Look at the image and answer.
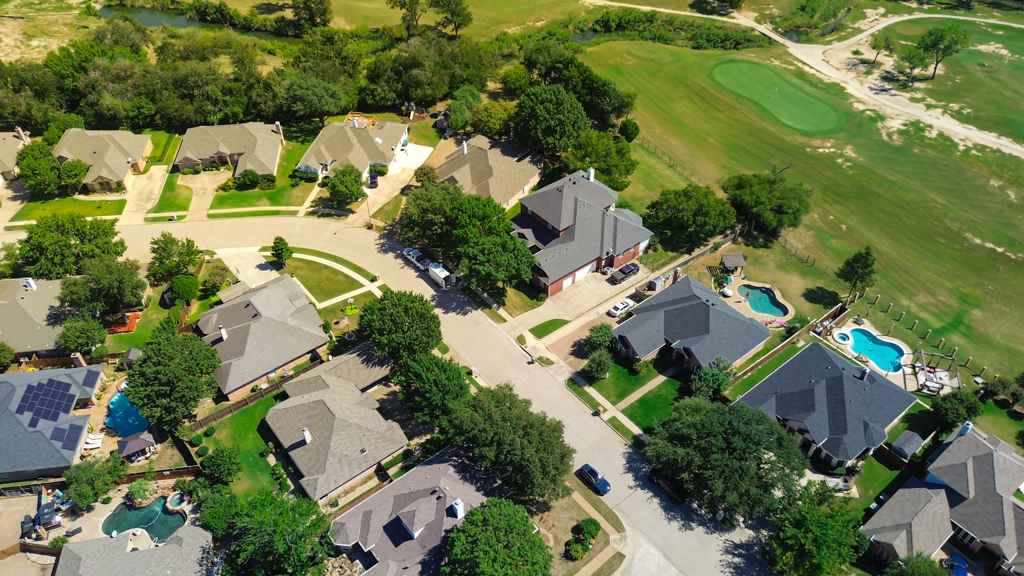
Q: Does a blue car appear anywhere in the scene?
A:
Yes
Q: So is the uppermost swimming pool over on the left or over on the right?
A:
right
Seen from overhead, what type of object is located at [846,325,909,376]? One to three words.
swimming pool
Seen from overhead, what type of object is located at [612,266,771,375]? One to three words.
house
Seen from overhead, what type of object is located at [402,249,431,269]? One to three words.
vehicle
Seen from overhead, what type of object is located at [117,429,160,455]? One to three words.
gazebo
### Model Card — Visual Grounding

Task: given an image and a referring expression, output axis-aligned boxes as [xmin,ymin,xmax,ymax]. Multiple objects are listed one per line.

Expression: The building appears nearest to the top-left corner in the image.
[0,126,32,182]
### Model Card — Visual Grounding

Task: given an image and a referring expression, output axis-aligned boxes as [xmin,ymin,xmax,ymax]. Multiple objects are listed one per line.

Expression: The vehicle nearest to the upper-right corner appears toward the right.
[610,262,639,280]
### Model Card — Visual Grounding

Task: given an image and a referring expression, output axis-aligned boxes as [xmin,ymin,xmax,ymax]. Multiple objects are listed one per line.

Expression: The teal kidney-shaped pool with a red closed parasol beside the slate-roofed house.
[735,283,790,318]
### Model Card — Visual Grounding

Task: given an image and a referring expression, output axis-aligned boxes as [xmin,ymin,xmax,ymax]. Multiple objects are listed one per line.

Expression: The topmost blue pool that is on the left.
[101,391,152,439]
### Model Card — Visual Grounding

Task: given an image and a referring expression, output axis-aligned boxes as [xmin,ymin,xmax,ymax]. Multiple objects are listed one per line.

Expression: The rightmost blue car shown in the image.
[949,555,970,576]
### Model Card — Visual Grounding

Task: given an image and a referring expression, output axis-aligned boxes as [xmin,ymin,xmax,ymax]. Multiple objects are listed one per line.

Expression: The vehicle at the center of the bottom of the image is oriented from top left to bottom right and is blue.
[579,463,612,495]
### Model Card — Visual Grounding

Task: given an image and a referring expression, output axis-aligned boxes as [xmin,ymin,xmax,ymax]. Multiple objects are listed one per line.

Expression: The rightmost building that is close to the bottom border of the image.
[864,418,1024,576]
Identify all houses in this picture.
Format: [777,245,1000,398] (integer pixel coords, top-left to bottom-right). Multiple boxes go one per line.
[0,350,106,484]
[265,343,409,500]
[612,266,771,375]
[55,527,226,576]
[296,118,409,183]
[864,418,1024,576]
[756,342,919,471]
[436,135,544,213]
[0,126,32,182]
[197,273,330,402]
[509,166,654,293]
[329,445,512,576]
[174,121,286,189]
[53,127,153,195]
